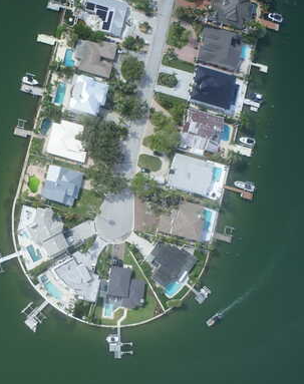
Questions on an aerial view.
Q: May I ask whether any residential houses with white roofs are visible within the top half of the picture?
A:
Yes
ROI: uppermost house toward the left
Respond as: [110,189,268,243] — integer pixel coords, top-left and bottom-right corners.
[81,0,132,39]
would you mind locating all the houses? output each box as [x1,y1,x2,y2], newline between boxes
[21,208,69,257]
[178,107,223,152]
[67,73,110,116]
[54,252,99,301]
[196,27,242,72]
[47,120,88,163]
[41,165,84,207]
[188,65,239,111]
[105,267,146,308]
[165,153,214,195]
[150,241,197,285]
[75,39,118,78]
[164,200,205,242]
[81,0,132,39]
